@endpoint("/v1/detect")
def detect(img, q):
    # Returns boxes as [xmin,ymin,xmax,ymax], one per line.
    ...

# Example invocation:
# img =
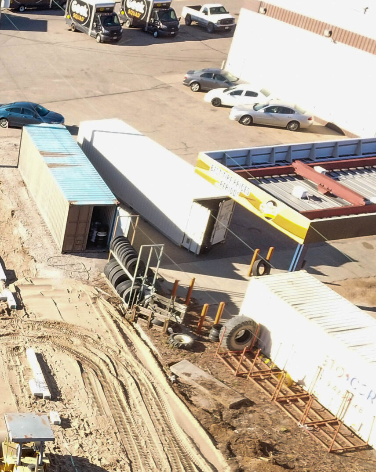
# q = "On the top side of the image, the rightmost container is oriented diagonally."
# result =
[78,117,233,252]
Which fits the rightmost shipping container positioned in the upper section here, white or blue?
white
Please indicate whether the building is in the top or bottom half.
top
